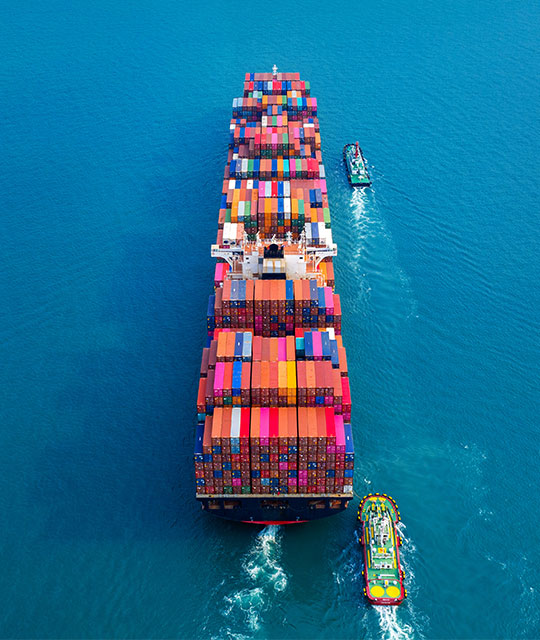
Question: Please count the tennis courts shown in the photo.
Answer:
0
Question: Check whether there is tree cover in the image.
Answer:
No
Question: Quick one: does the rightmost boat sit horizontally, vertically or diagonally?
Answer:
vertically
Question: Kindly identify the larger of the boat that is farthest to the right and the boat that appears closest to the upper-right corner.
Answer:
the boat that is farthest to the right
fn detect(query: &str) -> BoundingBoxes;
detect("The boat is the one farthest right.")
[358,492,407,606]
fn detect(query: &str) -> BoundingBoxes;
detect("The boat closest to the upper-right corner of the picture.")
[341,144,370,187]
